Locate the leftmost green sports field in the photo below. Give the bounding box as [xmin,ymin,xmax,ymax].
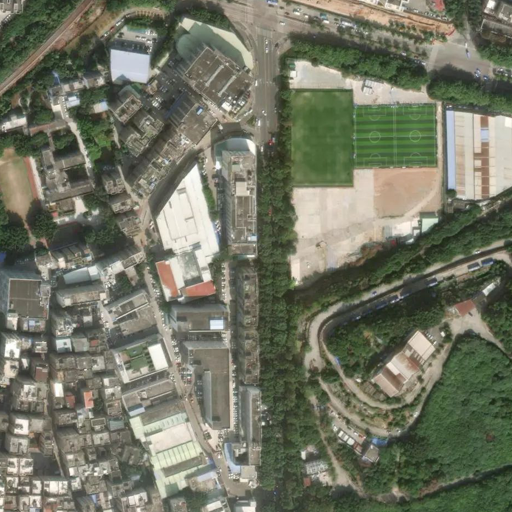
[292,89,354,188]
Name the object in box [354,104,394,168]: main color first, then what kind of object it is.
green soccer field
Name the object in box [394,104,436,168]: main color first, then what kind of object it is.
green soccer field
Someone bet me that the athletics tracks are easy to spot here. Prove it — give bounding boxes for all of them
[0,148,41,234]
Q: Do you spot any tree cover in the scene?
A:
Yes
